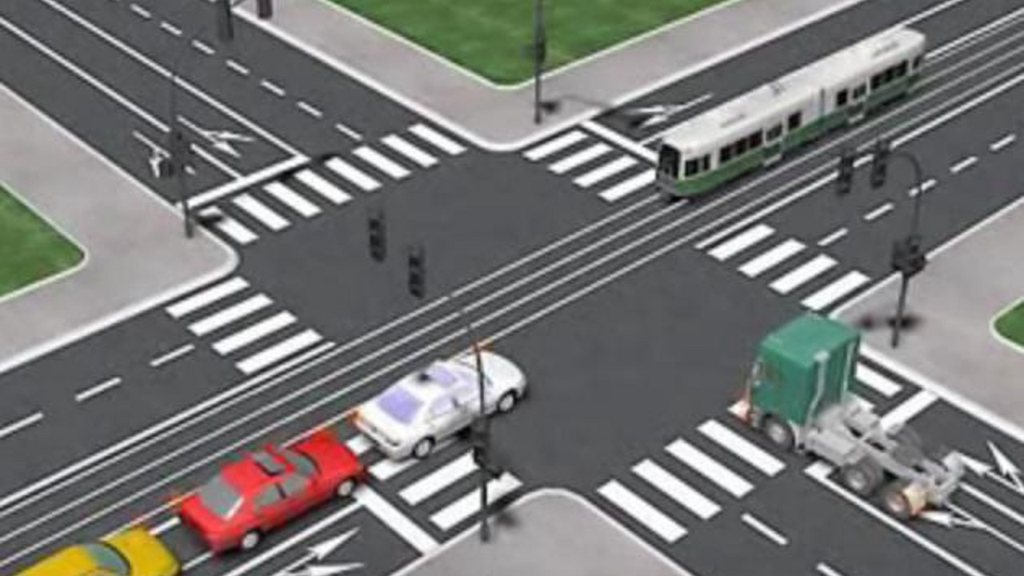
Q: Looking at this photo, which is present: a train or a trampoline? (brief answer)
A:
train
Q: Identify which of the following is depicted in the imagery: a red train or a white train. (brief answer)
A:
white train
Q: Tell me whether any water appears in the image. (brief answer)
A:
No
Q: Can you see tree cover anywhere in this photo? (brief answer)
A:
No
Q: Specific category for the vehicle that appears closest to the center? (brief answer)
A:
car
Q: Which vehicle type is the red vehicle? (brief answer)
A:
car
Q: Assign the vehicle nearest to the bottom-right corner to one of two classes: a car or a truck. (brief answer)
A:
truck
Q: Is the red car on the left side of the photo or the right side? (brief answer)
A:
left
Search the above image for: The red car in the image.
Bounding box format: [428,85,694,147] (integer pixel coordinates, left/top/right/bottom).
[178,433,366,554]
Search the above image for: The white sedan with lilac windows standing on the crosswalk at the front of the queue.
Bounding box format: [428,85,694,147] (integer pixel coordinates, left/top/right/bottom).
[354,355,526,461]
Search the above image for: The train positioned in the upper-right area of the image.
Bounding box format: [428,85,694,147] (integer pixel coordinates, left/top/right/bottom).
[653,30,922,198]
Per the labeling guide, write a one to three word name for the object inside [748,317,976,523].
truck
